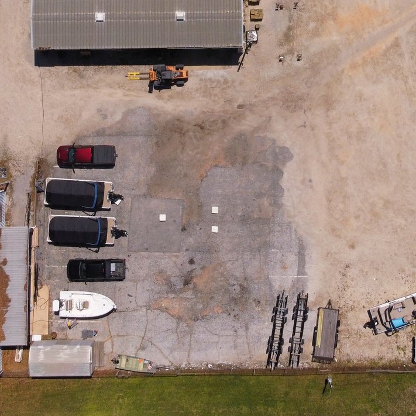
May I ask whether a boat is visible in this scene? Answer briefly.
Yes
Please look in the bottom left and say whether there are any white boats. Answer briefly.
Yes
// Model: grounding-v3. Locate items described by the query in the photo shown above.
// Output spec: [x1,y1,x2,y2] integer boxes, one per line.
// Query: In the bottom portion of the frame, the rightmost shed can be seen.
[29,335,96,376]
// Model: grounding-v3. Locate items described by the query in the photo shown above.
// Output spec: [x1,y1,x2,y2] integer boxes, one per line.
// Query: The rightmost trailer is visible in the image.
[312,294,338,366]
